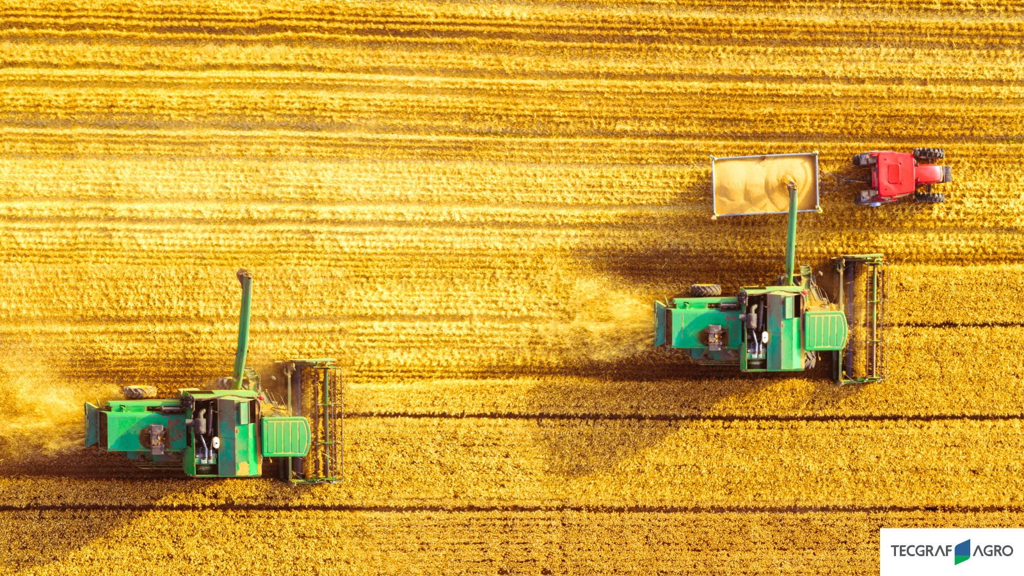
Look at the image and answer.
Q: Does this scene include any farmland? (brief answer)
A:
Yes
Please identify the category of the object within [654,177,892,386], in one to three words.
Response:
work vehicle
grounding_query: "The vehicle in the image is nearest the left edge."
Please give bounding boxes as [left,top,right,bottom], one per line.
[83,268,346,487]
